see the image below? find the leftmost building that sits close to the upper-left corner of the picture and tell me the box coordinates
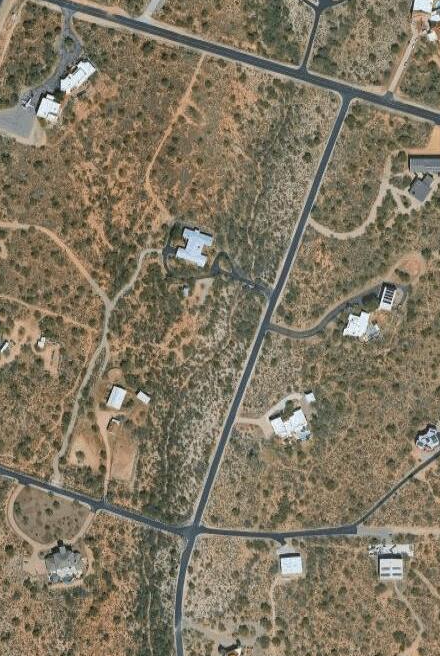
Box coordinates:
[37,95,61,123]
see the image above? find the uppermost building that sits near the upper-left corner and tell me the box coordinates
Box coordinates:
[61,62,96,93]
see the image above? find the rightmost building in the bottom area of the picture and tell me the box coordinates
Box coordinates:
[417,429,440,449]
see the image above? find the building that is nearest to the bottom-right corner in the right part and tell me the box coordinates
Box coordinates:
[380,559,404,581]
